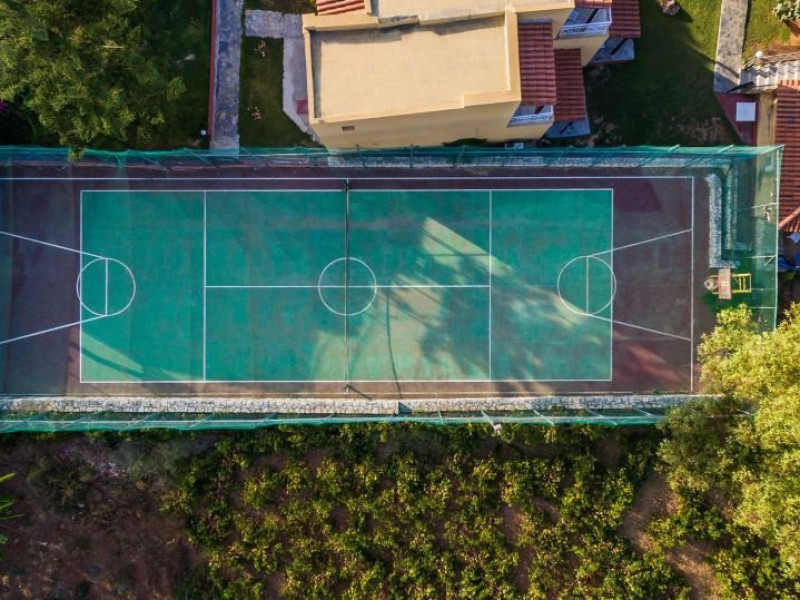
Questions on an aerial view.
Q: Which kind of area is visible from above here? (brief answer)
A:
sports ground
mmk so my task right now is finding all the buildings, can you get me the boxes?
[752,66,800,241]
[304,9,591,162]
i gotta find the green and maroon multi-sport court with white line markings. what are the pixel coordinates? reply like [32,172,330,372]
[0,168,737,398]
